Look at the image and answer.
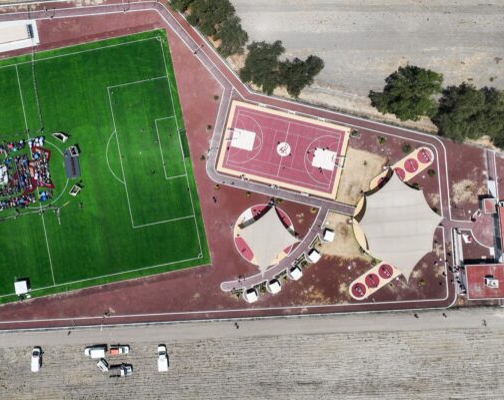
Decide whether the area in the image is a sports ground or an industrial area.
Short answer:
sports ground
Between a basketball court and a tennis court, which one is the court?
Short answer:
basketball court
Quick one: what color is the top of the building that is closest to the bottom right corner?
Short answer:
red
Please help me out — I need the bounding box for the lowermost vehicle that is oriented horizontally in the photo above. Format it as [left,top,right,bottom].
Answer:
[109,364,133,376]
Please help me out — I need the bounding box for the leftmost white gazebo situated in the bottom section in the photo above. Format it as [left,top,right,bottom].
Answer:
[14,278,28,295]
